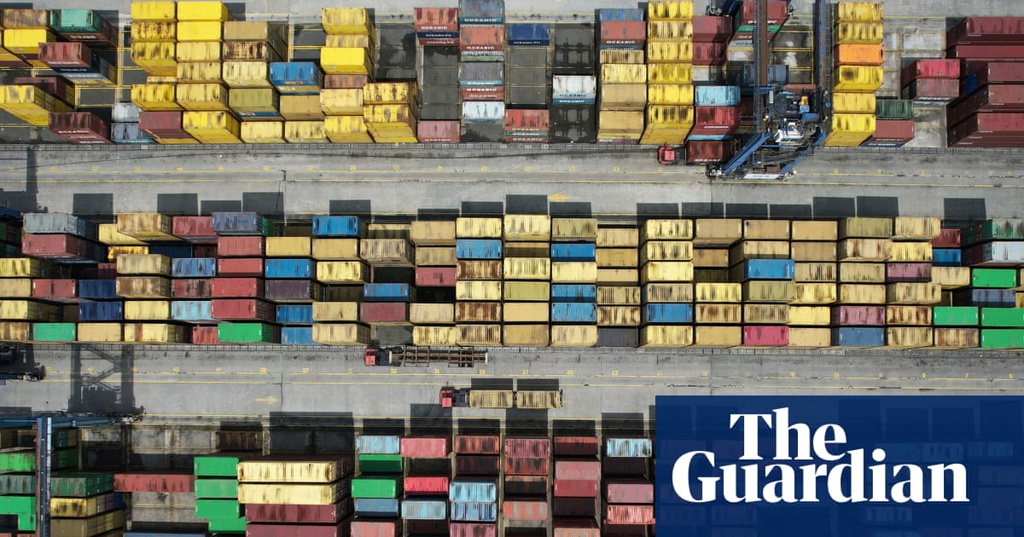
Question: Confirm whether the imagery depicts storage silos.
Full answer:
No, the photo shows no storage silo.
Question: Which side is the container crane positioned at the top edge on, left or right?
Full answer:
It is on the right.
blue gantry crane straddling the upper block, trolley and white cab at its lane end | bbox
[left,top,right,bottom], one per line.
[707,0,843,182]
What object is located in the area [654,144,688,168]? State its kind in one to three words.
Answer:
truck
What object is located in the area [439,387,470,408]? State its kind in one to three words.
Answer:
truck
